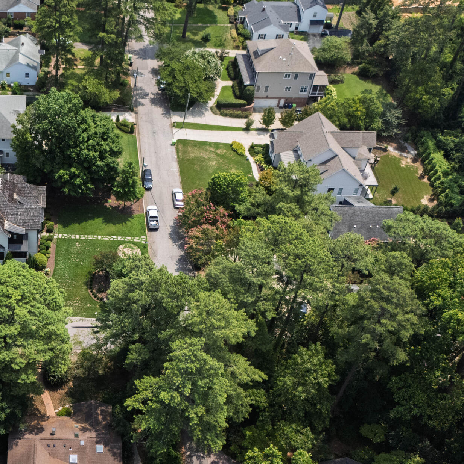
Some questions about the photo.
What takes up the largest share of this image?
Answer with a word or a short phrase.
trees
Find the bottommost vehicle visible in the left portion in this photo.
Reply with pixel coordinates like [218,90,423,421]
[147,207,161,231]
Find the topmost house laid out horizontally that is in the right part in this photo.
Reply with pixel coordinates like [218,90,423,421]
[233,0,326,39]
